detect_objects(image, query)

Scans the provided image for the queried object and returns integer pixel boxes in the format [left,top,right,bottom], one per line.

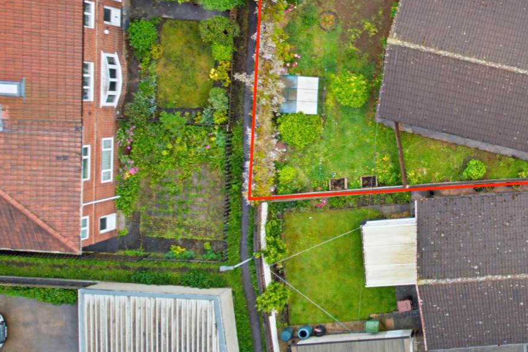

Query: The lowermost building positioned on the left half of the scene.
[78,280,241,352]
